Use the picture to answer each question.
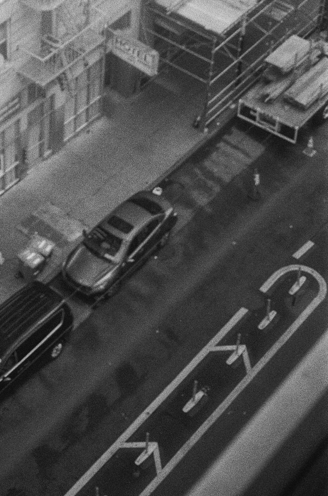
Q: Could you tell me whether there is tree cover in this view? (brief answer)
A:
No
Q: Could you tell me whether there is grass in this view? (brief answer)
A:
No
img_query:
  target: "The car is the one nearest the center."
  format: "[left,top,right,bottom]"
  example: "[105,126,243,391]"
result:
[59,179,191,300]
